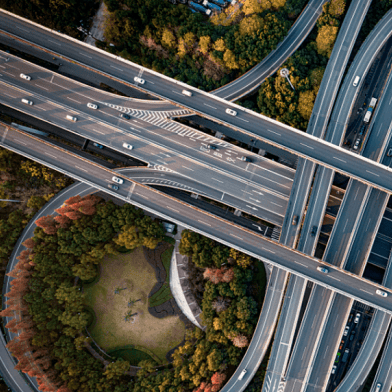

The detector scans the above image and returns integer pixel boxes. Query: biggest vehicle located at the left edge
[12,122,46,137]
